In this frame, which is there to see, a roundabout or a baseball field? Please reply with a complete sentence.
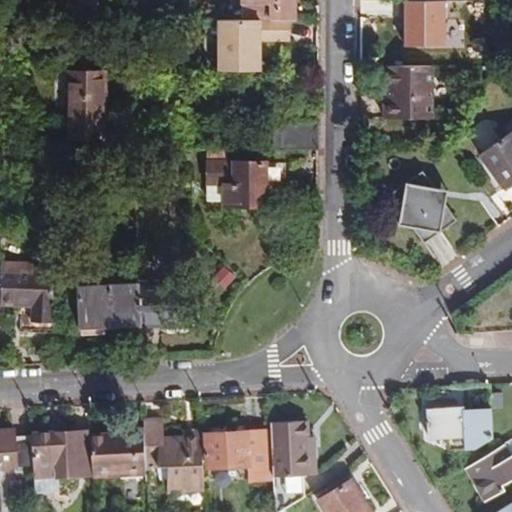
The one in the frame is a roundabout.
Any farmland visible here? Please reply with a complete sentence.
No, farmland can't be seen anywhere here.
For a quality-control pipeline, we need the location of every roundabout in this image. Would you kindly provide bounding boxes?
[254,250,464,412]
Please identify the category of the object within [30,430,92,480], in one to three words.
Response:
house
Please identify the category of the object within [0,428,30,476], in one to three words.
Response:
house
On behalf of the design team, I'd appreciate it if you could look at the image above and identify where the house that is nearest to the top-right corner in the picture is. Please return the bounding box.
[403,0,448,47]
